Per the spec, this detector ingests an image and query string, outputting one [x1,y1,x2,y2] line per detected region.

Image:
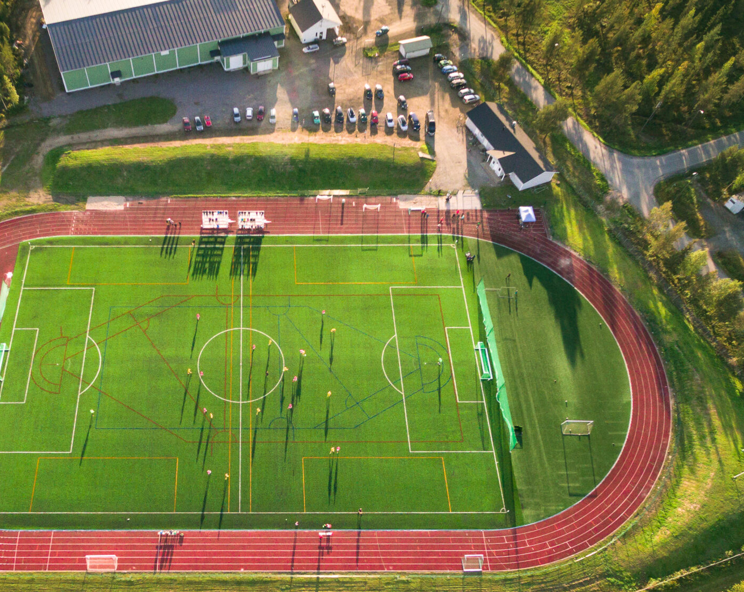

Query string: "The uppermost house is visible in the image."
[290,0,345,43]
